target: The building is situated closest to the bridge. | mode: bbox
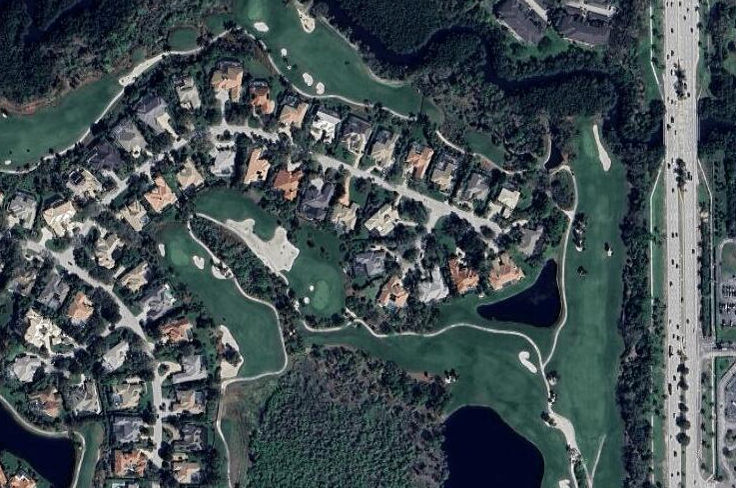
[558,13,611,48]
